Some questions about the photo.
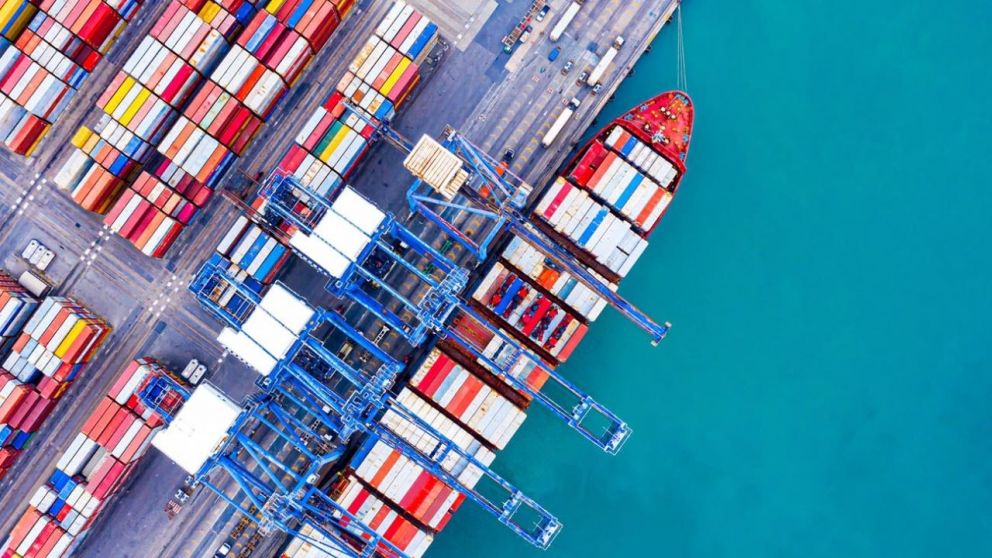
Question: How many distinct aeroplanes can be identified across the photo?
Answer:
0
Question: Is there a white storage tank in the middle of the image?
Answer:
No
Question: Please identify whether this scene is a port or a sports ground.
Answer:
port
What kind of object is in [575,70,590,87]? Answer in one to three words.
vehicle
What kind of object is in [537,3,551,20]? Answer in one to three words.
vehicle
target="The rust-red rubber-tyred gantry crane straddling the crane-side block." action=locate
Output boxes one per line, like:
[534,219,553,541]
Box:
[216,164,318,249]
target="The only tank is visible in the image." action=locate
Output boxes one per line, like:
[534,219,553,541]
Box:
[11,264,57,298]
